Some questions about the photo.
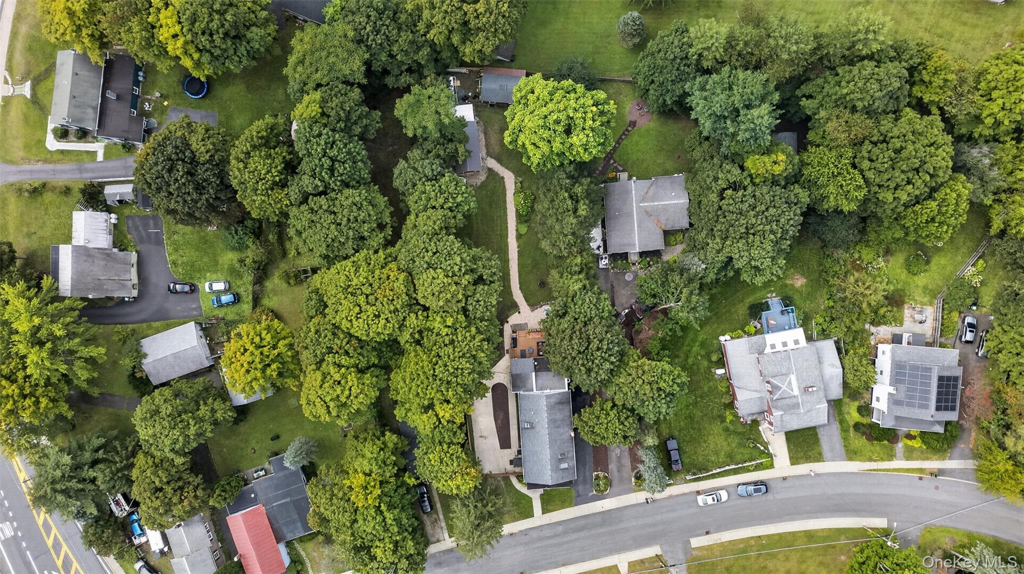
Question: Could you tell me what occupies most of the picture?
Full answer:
What you mostly see from above here is trees.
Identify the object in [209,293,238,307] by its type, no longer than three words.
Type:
car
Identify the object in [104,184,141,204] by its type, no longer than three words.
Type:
shed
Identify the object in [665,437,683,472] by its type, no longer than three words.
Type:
vehicle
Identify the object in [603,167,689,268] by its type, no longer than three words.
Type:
house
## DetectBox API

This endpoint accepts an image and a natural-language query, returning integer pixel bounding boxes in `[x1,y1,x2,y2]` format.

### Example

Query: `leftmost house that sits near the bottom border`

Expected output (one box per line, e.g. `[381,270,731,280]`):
[165,511,224,574]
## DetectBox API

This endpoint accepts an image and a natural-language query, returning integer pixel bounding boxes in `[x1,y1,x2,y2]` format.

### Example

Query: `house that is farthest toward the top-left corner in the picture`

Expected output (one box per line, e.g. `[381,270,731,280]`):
[50,48,149,144]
